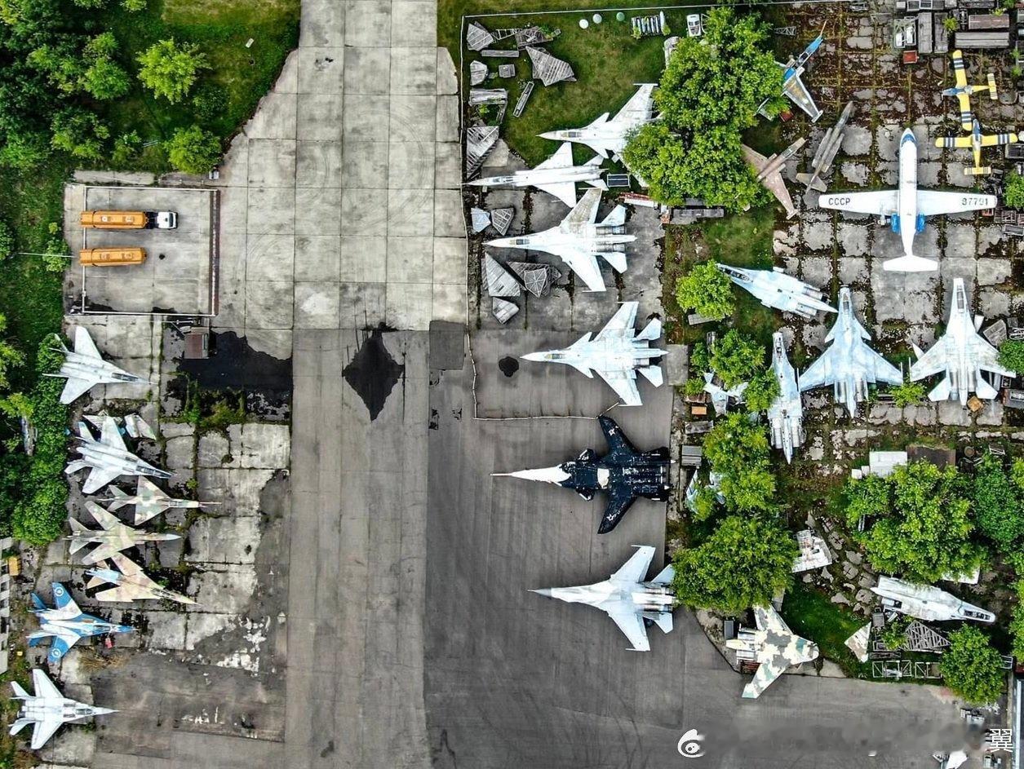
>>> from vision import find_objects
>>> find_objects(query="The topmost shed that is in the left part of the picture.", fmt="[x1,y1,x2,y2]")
[184,327,216,358]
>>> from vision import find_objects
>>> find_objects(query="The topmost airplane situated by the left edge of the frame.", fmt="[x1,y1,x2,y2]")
[37,326,154,405]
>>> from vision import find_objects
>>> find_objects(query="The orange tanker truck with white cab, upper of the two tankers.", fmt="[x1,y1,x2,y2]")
[78,208,187,231]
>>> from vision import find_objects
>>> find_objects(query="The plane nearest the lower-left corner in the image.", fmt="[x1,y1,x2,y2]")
[0,670,119,749]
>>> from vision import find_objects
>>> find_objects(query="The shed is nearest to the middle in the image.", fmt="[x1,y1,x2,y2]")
[681,444,703,466]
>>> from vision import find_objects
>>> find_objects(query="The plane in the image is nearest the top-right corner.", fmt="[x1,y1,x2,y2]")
[941,50,998,129]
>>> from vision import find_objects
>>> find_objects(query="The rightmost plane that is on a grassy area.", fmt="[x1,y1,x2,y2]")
[871,577,997,625]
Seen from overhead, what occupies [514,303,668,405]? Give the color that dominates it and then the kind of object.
white airplane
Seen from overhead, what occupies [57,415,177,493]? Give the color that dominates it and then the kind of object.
white airplane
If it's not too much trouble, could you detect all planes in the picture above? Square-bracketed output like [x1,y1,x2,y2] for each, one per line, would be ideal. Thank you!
[0,670,119,749]
[91,476,224,525]
[37,326,154,405]
[726,597,820,702]
[57,415,177,493]
[489,417,676,533]
[766,333,804,464]
[820,128,998,271]
[85,554,205,606]
[533,84,686,187]
[18,583,138,662]
[479,187,636,291]
[936,117,1018,174]
[717,262,838,321]
[462,141,605,209]
[723,137,805,217]
[745,27,830,124]
[532,546,684,651]
[910,277,1014,405]
[796,101,852,192]
[55,502,181,573]
[871,577,997,625]
[797,286,902,418]
[941,50,998,129]
[514,303,668,405]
